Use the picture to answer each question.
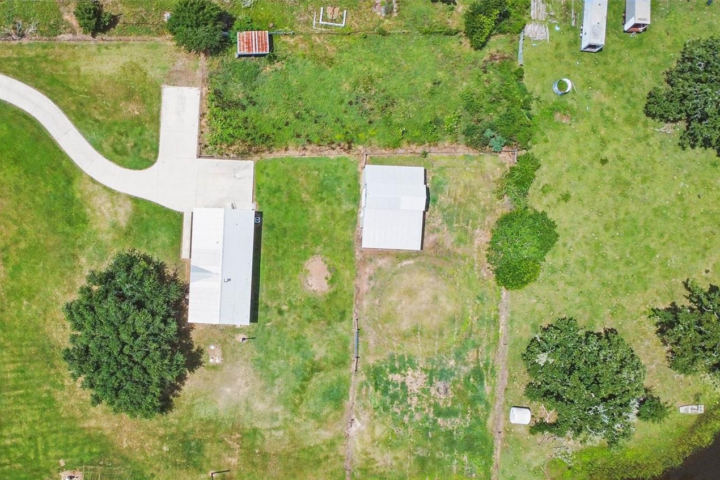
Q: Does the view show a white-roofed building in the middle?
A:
Yes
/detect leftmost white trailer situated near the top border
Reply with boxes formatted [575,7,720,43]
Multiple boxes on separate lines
[578,0,608,52]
